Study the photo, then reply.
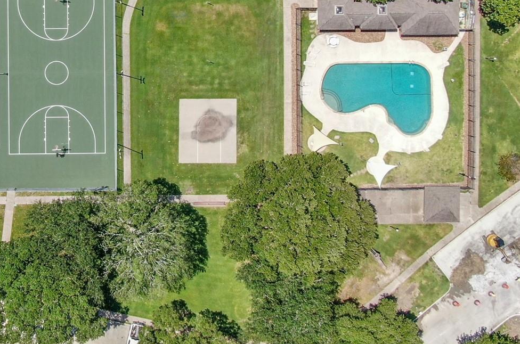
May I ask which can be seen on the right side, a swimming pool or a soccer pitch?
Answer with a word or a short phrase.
swimming pool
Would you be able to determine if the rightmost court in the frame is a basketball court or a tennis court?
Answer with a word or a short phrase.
basketball court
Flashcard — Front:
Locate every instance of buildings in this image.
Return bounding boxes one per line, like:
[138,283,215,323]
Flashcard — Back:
[318,0,461,35]
[418,184,460,223]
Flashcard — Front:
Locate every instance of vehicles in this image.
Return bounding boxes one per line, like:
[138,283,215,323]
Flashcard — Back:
[482,228,509,260]
[129,321,146,344]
